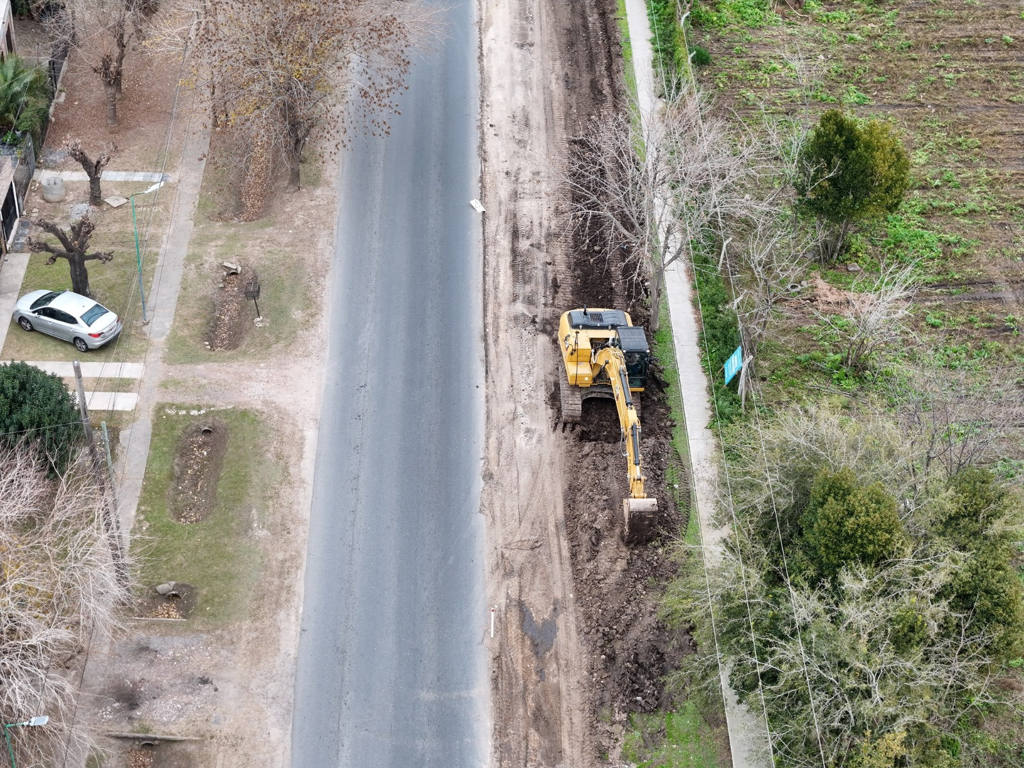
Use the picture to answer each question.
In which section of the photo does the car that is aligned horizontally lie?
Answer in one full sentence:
Look in the left portion of the view to spot the car that is aligned horizontally.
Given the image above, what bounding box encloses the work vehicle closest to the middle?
[558,306,659,544]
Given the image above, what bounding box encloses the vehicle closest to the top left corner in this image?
[10,291,123,352]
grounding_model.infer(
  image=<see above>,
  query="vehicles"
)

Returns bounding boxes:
[10,291,123,352]
[558,306,659,544]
